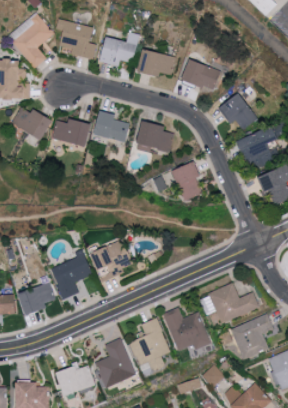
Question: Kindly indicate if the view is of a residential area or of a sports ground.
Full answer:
What you see here is a residential area.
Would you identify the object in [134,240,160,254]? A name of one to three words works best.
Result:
swimming pool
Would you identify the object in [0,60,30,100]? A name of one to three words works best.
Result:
house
